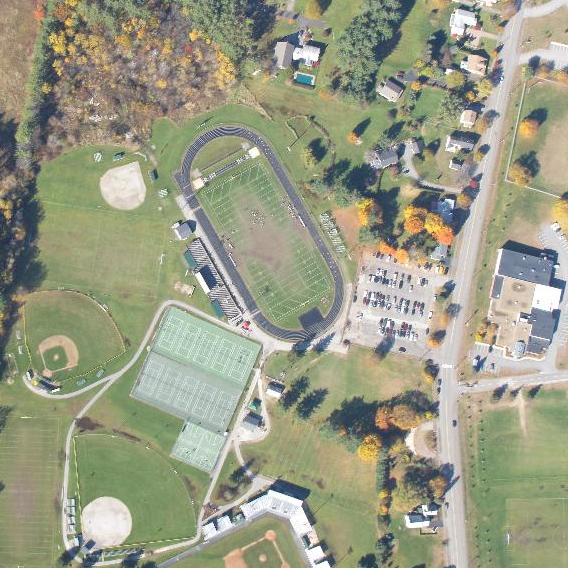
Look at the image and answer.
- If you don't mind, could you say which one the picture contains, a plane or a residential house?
residential house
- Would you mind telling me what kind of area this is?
sports ground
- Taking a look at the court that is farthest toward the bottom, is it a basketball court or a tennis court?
basketball court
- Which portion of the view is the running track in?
center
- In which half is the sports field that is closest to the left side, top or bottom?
bottom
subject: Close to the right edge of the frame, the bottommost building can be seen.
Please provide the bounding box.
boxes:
[486,249,562,359]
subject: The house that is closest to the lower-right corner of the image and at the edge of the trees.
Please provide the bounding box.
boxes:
[405,507,436,528]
